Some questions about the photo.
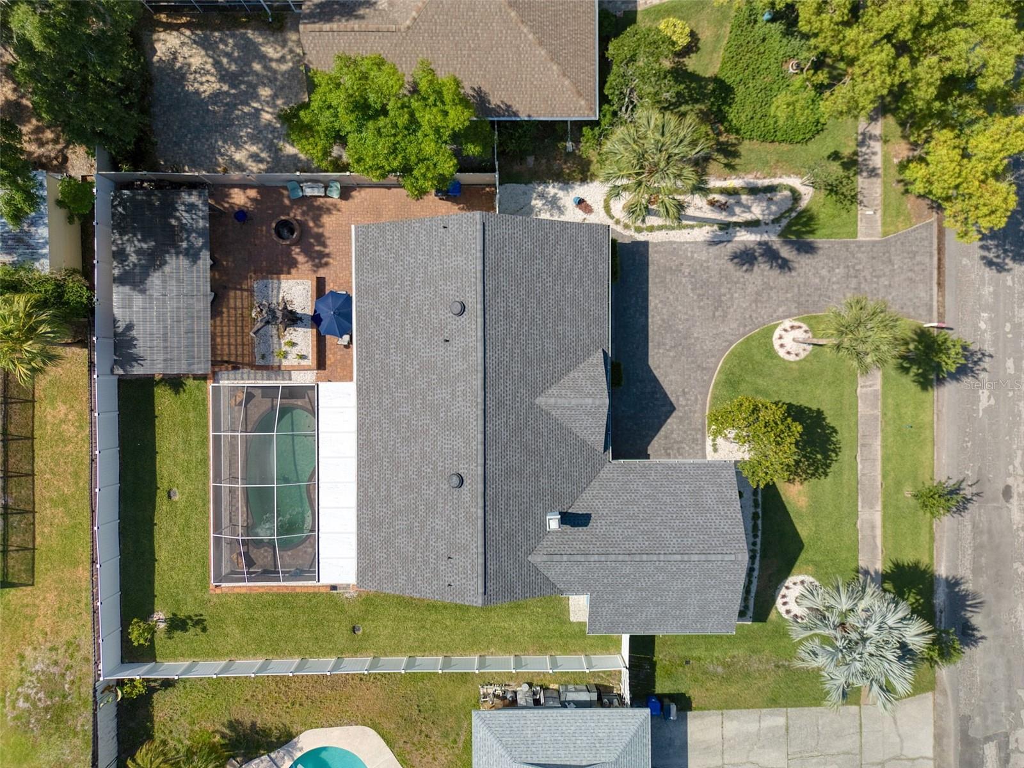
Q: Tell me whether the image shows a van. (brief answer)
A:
No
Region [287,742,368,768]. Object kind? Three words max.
swimming pool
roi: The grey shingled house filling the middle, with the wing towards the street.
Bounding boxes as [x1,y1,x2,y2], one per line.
[353,213,747,635]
